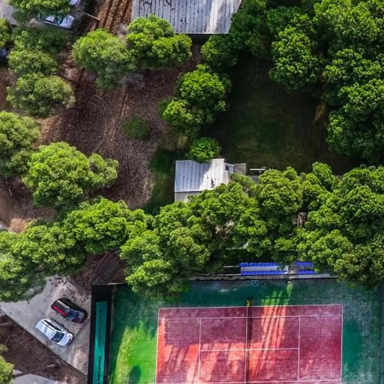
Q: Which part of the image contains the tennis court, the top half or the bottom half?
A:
bottom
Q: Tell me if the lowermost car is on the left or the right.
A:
left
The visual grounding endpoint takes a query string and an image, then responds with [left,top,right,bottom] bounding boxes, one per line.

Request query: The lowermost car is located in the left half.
[34,319,74,345]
